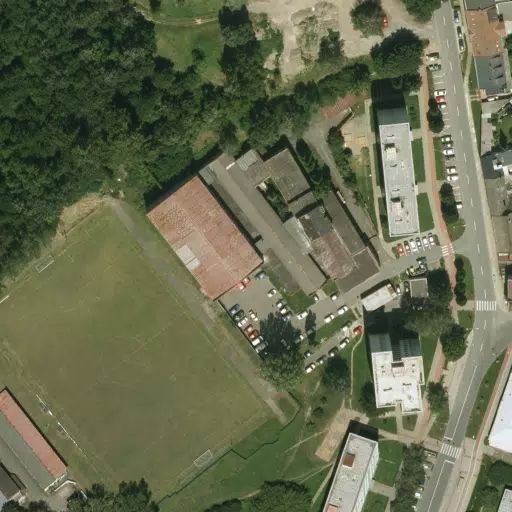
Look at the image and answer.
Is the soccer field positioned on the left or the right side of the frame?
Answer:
left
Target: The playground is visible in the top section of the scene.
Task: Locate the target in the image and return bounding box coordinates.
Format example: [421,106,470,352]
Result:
[340,100,372,160]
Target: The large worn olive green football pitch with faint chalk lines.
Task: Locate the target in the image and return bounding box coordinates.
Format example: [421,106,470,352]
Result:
[0,210,270,512]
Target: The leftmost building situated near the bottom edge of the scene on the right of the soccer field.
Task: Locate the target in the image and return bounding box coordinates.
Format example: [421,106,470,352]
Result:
[316,422,380,512]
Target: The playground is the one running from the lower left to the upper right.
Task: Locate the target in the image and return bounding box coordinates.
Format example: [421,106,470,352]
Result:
[314,406,368,462]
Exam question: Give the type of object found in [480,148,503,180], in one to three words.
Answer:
house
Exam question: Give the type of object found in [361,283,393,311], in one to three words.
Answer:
building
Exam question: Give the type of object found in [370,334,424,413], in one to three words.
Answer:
building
